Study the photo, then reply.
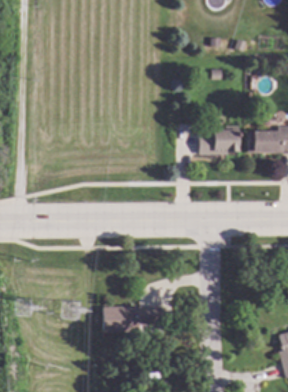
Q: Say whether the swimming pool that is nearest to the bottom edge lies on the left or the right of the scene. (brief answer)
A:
right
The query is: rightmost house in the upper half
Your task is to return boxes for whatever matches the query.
[254,124,288,153]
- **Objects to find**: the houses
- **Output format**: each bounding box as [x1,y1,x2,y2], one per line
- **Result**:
[198,127,241,156]
[254,124,288,153]
[278,333,288,380]
[100,307,152,335]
